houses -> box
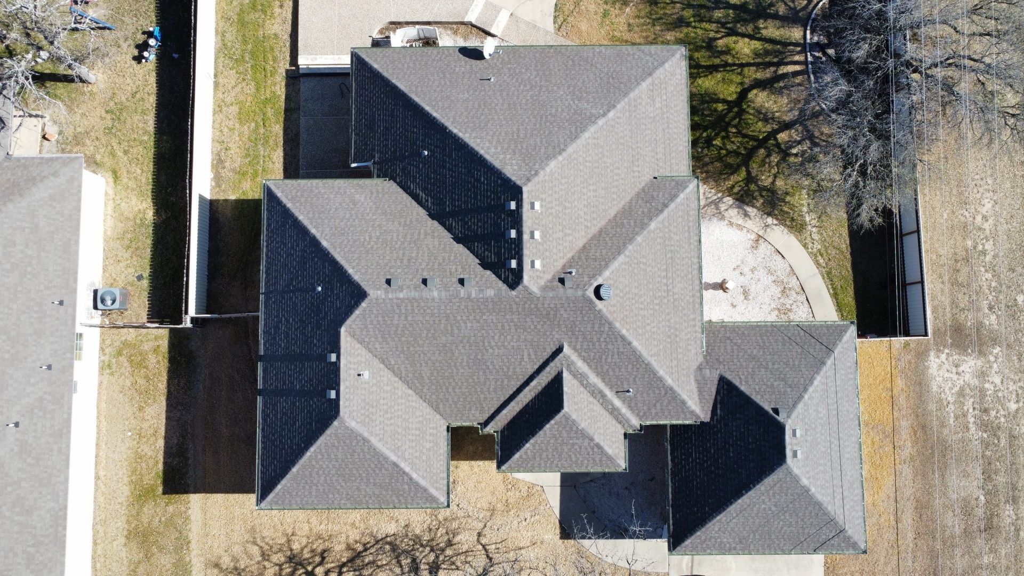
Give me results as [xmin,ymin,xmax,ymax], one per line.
[0,93,105,576]
[253,42,869,558]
